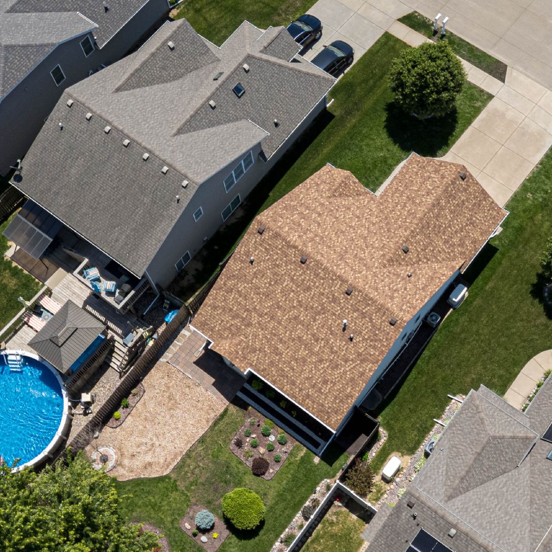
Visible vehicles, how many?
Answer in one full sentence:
In total, 2 vehicles can be seen.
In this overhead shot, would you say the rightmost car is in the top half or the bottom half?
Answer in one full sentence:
You can find the rightmost car in the top half.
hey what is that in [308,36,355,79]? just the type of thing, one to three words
car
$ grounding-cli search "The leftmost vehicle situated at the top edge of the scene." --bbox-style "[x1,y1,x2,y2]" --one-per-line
[288,13,323,59]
